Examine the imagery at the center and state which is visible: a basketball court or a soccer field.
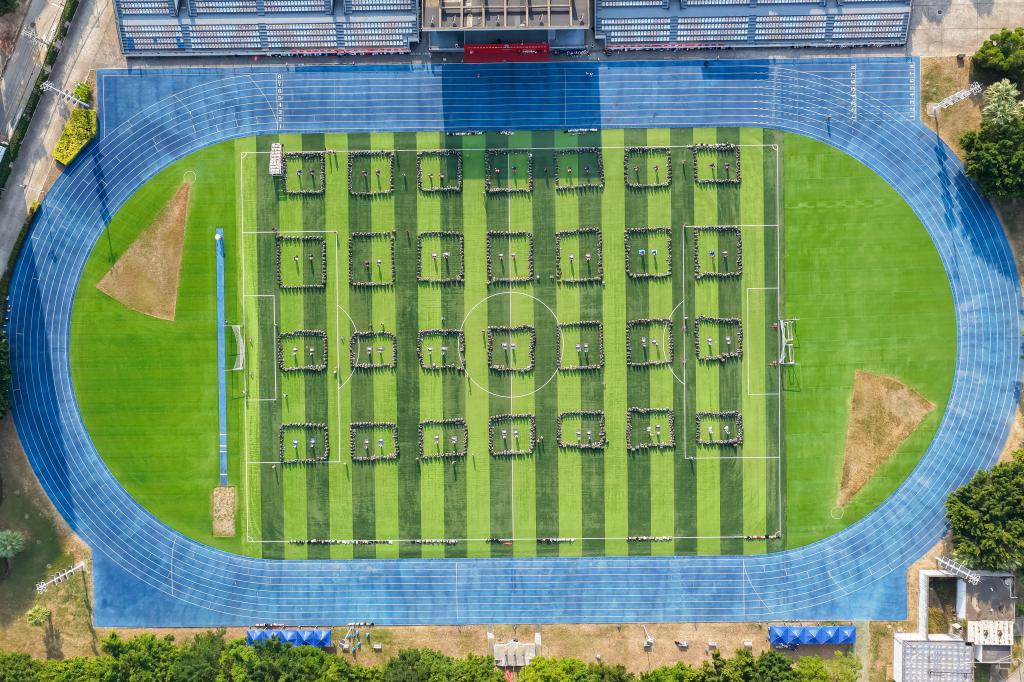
soccer field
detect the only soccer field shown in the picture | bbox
[235,128,787,561]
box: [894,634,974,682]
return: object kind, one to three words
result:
building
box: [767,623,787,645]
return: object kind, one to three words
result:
tent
